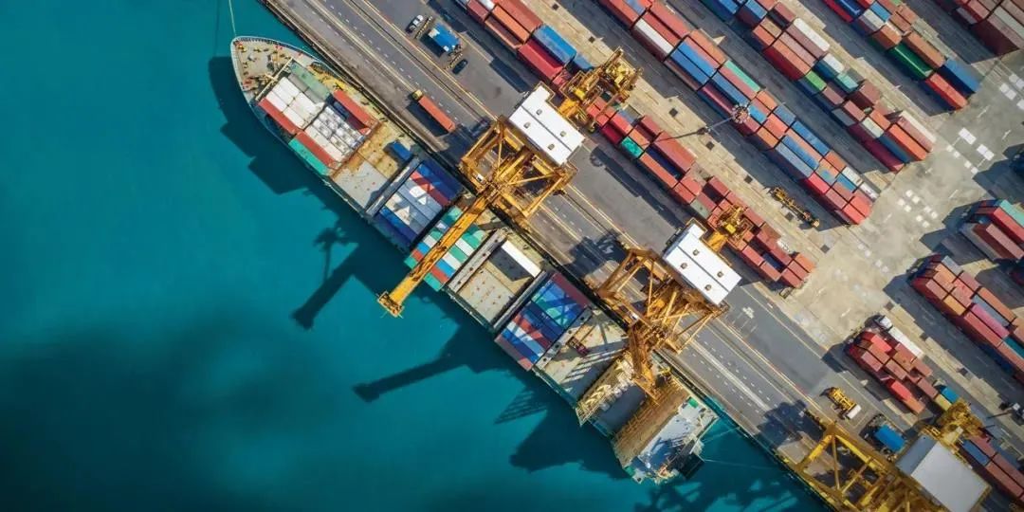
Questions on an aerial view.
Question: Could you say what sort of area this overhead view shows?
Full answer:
What you see here is a port.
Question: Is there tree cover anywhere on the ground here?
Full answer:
No, there's no tree cover in this view.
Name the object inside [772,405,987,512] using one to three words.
container crane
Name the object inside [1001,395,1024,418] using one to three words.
truck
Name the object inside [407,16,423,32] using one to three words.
car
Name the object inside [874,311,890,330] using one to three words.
vehicle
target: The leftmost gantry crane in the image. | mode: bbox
[371,45,644,321]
